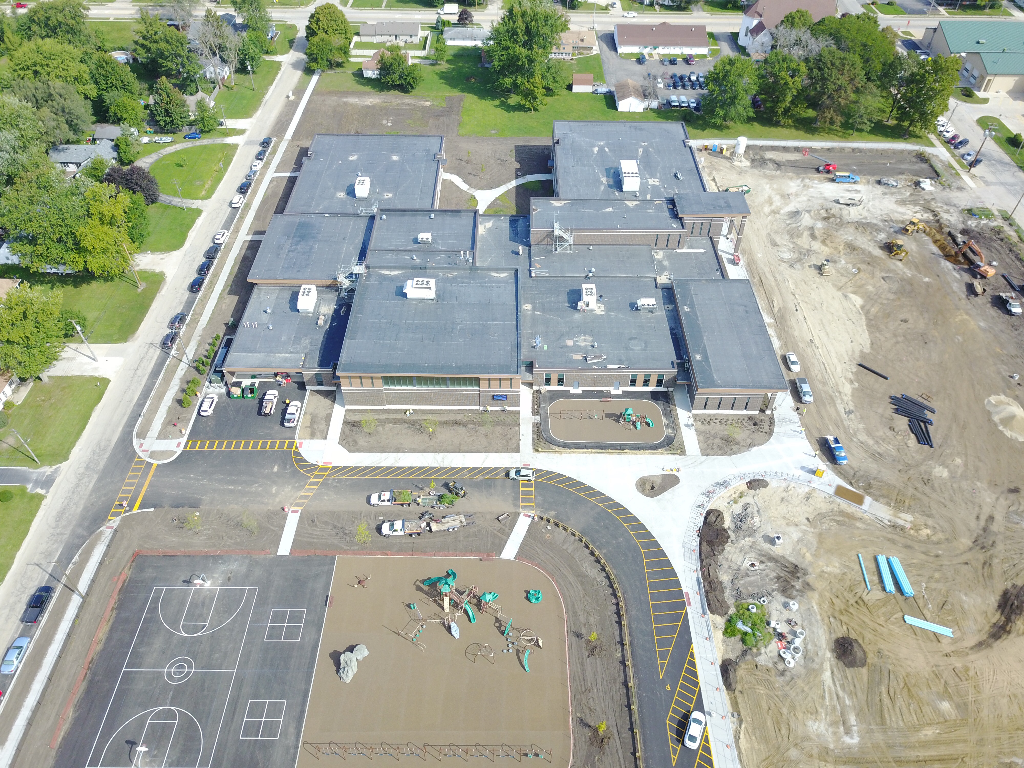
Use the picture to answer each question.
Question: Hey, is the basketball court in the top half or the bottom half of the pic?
bottom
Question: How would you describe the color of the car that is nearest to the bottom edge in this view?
white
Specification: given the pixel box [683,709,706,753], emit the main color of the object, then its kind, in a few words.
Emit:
white car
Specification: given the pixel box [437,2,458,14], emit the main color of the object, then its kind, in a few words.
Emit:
white vehicle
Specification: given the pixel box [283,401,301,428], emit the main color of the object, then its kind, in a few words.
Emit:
white vehicle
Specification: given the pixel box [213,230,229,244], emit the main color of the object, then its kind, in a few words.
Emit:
white car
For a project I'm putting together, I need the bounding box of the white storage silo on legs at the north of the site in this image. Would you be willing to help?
[732,137,751,165]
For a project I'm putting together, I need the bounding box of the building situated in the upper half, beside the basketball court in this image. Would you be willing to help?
[222,120,791,414]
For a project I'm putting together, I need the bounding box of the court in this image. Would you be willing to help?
[51,555,336,768]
